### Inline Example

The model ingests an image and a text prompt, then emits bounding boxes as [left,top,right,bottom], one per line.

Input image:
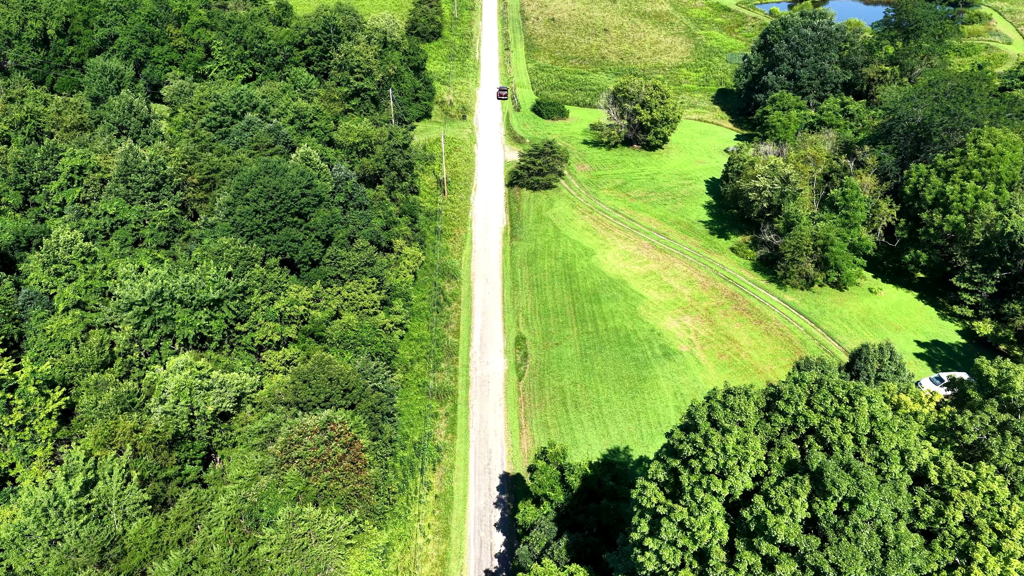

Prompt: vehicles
[497,85,509,100]
[921,371,978,397]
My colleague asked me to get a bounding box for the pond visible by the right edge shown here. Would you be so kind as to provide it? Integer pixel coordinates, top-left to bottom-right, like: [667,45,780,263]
[750,0,975,36]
